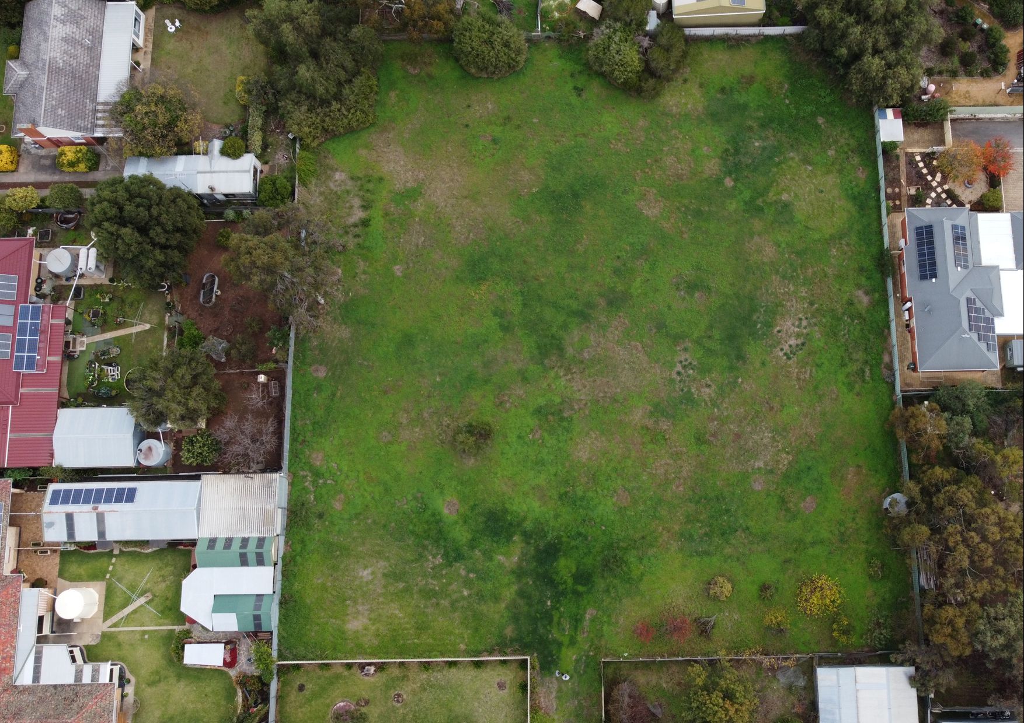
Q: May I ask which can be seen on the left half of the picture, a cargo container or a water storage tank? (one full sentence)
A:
The one visible on the left half of the picture is a water storage tank.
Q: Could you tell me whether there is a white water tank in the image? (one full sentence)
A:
Yes, there's a white water tank down there.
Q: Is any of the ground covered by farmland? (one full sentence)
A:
Yes, farmland can be seen from above here.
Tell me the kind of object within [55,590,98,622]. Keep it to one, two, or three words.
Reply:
water tank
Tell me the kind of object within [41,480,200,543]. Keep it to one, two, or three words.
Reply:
shed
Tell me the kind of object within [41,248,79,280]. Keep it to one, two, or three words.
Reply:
water tank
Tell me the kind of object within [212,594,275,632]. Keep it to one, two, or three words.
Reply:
shed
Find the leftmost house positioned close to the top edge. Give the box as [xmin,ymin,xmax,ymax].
[2,0,115,149]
